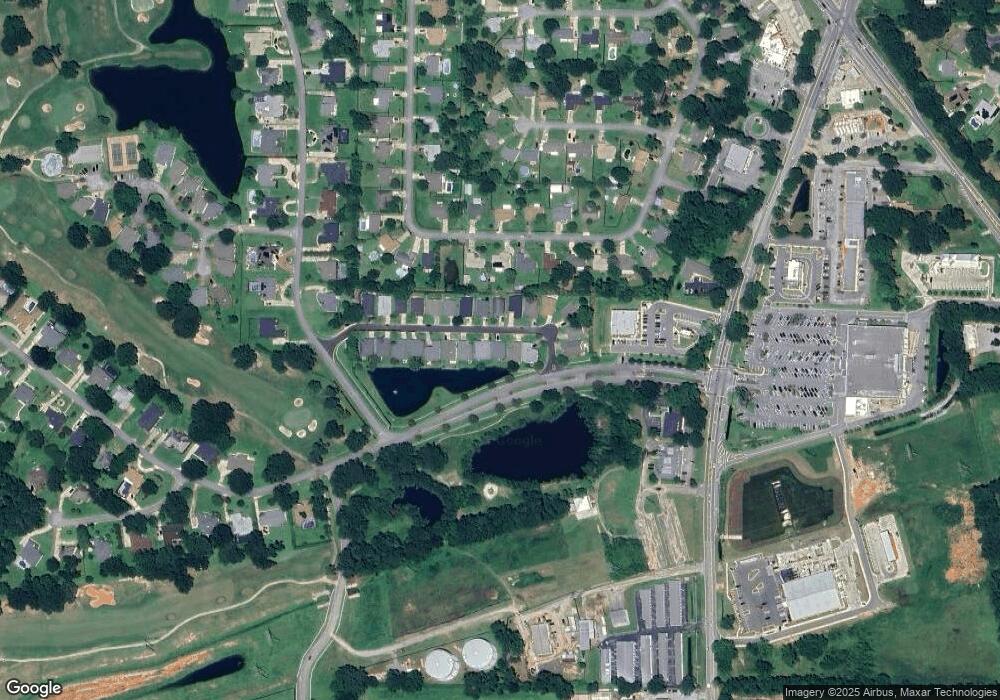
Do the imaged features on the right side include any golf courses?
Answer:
No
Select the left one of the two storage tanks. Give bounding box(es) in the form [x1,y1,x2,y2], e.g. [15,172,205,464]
[423,650,458,682]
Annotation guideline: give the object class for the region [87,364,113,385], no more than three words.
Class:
house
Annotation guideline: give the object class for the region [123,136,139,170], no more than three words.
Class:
tennis court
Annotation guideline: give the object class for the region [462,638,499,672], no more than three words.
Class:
storage tank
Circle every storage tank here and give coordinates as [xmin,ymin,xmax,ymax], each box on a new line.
[423,650,458,682]
[462,638,499,672]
